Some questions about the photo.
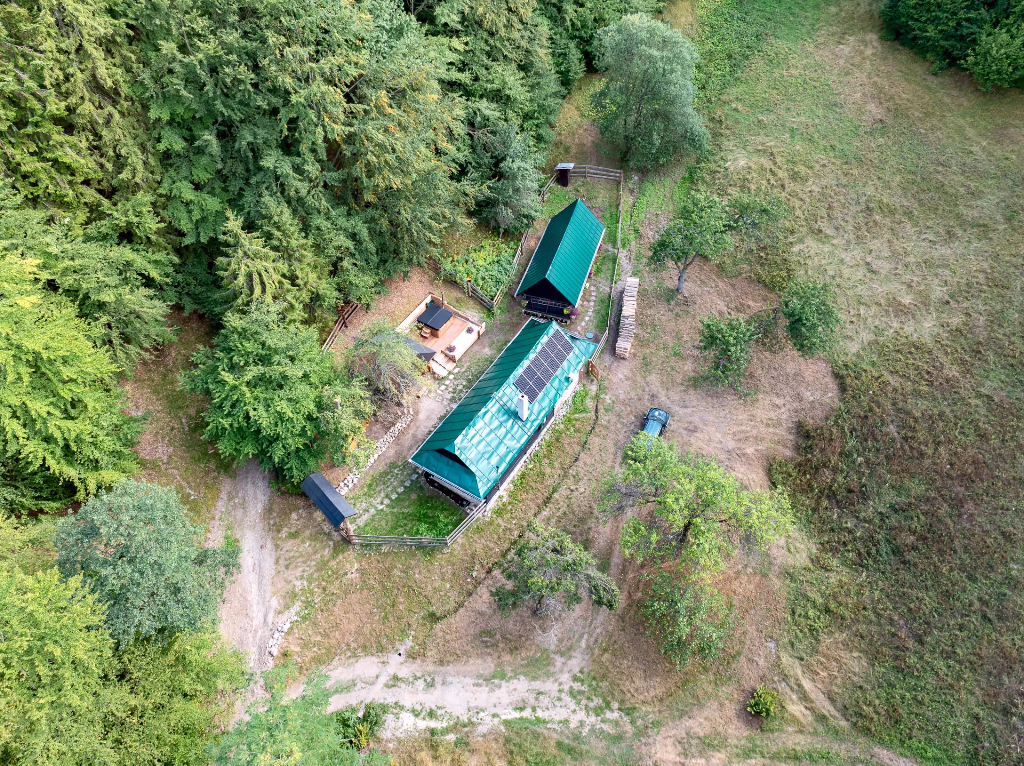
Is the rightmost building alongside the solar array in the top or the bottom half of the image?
top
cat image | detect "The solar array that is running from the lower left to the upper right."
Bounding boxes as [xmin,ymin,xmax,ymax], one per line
[514,327,574,404]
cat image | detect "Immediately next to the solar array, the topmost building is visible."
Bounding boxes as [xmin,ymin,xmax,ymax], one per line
[515,197,607,328]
